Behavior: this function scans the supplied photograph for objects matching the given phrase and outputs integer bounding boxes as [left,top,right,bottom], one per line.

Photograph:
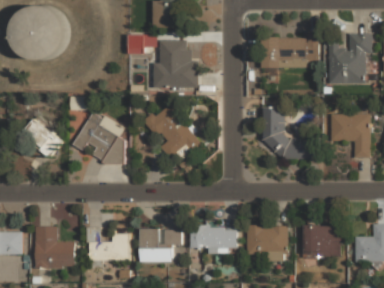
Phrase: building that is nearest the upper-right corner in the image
[329,30,374,83]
